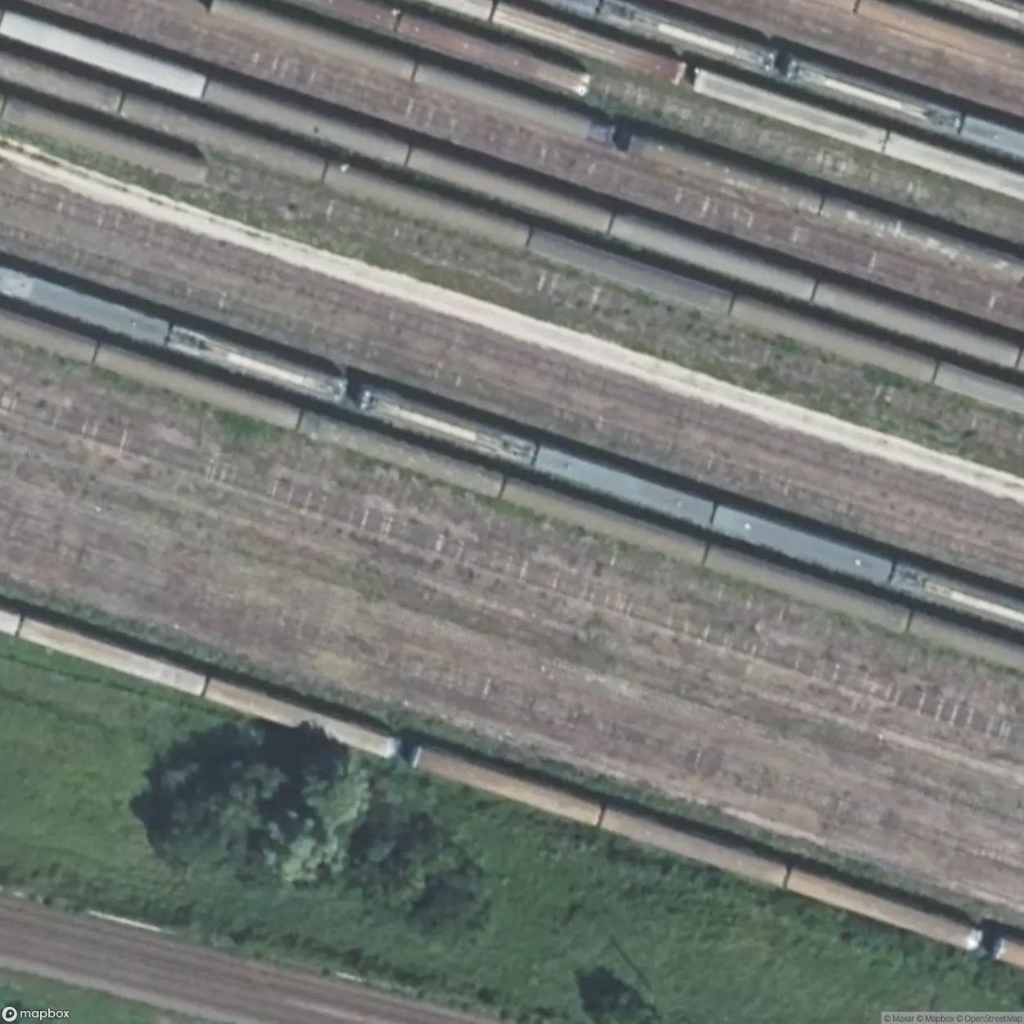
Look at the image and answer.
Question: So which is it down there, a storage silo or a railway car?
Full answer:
The one in the frame is a railway car.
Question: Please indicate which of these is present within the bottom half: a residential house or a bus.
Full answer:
The feature located within the bottom half is a bus.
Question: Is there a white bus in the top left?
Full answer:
Yes, in the top left there is a white bus.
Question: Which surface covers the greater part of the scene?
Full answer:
What you mostly see from above here is paved ground.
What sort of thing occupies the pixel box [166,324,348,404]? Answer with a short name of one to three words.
rail car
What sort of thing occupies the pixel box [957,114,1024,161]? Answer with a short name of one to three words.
rail car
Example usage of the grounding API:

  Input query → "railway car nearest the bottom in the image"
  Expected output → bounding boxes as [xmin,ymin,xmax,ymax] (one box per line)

[888,561,1024,630]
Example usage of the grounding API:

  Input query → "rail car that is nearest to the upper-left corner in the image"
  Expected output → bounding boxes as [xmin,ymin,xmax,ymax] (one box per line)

[0,267,170,348]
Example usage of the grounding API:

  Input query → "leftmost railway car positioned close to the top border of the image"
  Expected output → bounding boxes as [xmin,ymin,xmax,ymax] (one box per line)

[529,0,600,20]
